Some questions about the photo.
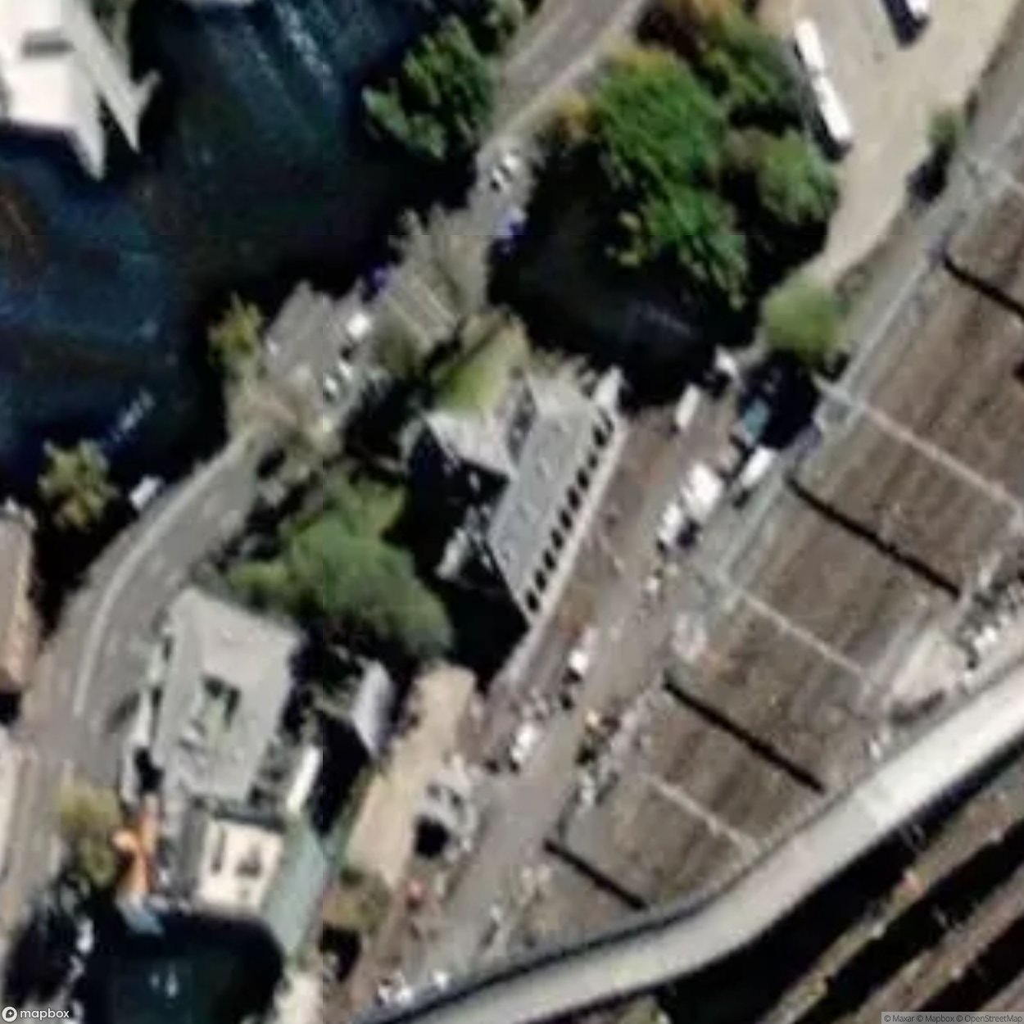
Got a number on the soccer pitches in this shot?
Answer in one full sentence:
No soccer pitches are visible.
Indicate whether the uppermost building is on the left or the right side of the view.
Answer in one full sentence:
You can find the uppermost building on the left side of the picture.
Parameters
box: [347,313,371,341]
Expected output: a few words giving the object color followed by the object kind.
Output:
white vehicle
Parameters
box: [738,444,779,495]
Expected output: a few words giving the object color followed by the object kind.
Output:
white truck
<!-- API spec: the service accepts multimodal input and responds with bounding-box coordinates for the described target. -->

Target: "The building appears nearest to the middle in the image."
[424,373,622,622]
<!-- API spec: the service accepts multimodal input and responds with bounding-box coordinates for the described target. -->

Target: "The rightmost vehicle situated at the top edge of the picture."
[903,0,928,22]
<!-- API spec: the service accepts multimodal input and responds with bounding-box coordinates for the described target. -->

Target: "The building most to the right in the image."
[600,366,626,417]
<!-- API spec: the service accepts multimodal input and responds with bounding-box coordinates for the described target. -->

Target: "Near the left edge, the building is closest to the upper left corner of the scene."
[0,0,161,180]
